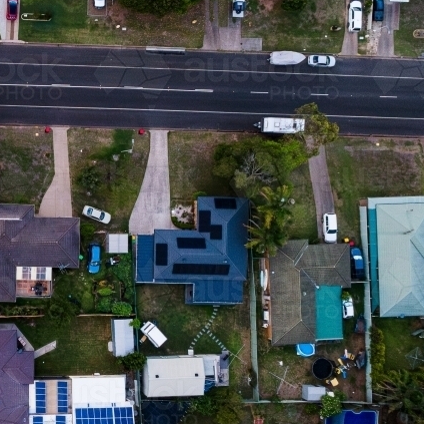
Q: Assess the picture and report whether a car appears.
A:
Yes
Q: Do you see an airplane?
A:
No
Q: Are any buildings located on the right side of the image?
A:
Yes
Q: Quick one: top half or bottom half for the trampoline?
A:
bottom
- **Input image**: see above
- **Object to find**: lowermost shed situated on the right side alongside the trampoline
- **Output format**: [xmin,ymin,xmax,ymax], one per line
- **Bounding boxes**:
[297,383,327,401]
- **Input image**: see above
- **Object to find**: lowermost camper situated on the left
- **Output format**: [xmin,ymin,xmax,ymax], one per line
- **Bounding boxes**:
[139,320,165,346]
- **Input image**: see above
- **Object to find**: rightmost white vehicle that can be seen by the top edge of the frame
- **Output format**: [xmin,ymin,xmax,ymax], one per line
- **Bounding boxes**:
[345,1,362,32]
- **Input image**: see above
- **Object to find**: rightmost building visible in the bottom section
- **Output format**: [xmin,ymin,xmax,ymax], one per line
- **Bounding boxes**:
[361,197,424,320]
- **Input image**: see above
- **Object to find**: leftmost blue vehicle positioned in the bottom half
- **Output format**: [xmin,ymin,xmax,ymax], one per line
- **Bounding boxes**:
[87,242,102,273]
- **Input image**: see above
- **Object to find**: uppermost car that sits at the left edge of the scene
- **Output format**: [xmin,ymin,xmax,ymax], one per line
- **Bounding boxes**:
[6,0,20,21]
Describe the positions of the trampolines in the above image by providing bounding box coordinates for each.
[311,358,333,379]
